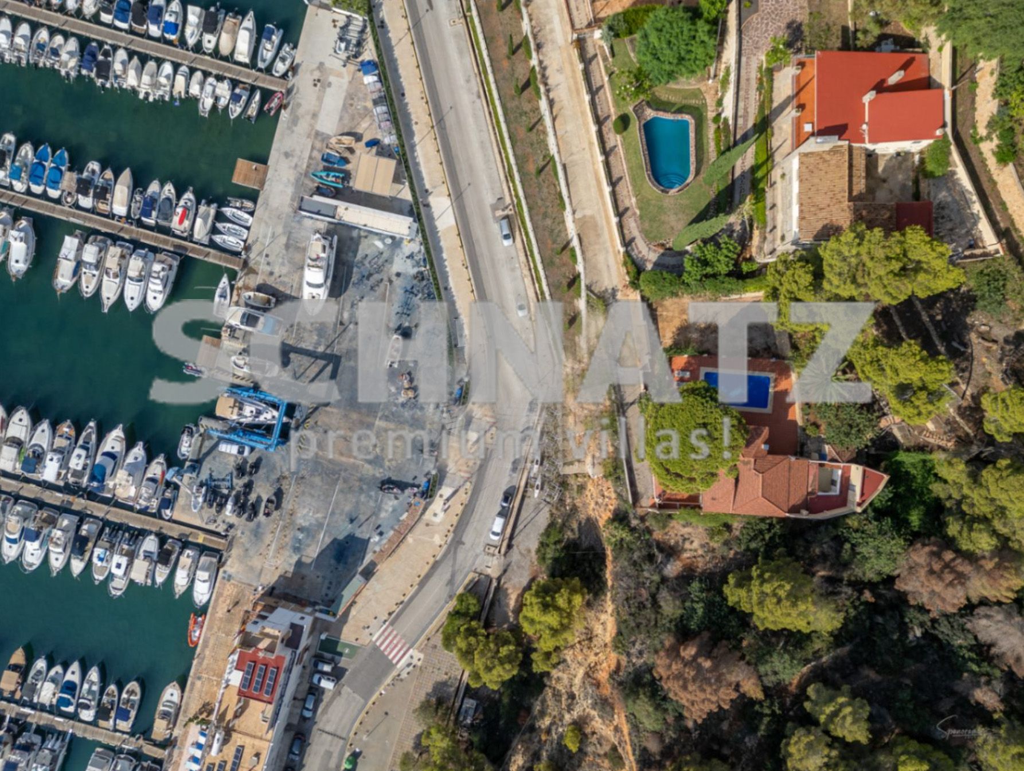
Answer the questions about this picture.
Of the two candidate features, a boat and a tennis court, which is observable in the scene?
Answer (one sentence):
I can see a boat in this picture.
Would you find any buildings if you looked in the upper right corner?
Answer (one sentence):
Yes, a building appears in the upper right corner.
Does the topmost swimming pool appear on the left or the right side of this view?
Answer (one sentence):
You can find the topmost swimming pool on the right side of the picture.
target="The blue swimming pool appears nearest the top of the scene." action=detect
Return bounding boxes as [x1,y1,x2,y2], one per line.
[638,111,695,195]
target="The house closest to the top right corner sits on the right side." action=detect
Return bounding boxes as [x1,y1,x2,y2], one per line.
[781,50,943,247]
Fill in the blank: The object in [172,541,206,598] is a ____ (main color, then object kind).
white boat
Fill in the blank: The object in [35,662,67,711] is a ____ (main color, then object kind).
white boat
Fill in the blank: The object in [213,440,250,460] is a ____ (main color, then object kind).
white vehicle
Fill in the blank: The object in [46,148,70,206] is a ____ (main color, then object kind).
blue boat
